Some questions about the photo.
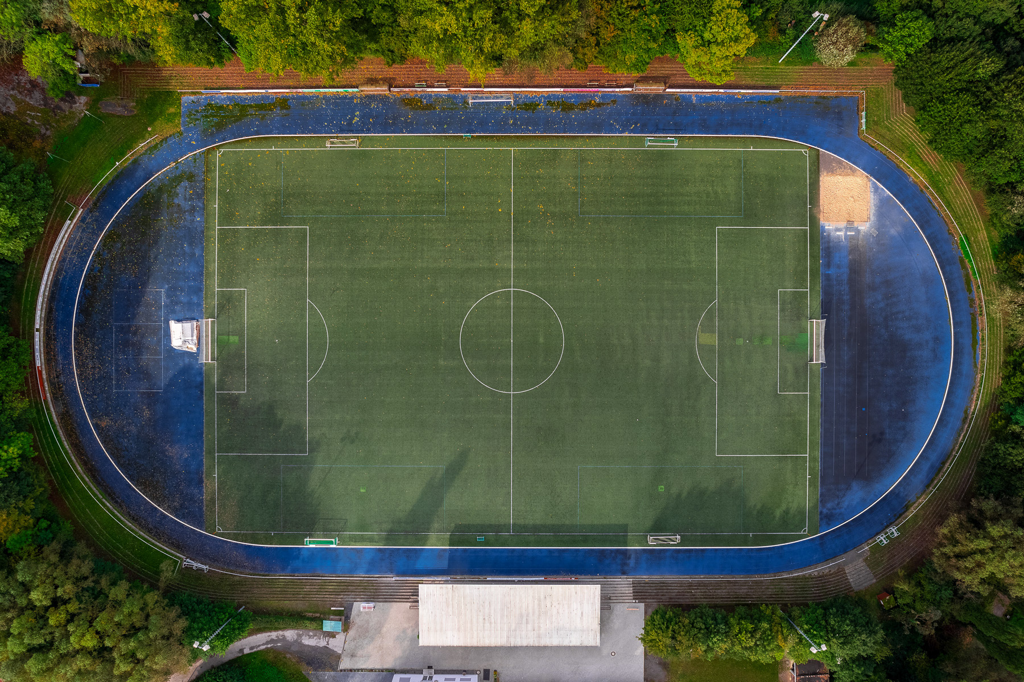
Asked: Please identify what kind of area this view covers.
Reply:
sports ground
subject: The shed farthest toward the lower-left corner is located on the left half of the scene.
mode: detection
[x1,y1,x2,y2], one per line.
[321,613,345,633]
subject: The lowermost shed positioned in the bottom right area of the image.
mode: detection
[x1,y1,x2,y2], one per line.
[786,652,830,682]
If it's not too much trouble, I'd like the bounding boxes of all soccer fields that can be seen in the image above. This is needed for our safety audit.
[204,136,820,546]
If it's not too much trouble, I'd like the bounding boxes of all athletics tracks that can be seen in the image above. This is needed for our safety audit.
[46,94,978,574]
